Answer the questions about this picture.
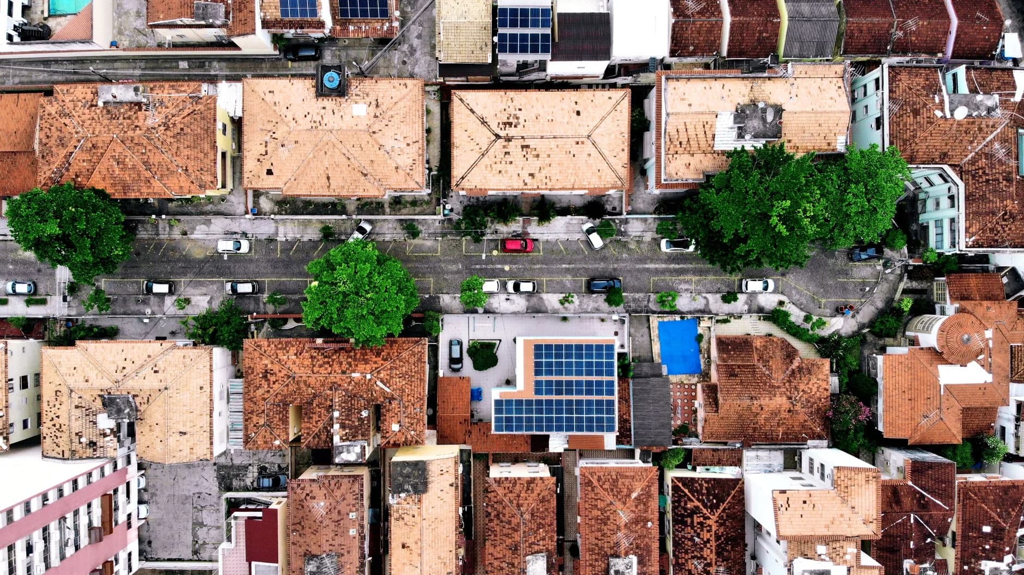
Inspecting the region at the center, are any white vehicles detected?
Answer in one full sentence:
Yes, a white vehicle appears at the center.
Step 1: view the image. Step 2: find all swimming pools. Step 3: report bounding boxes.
[656,317,704,377]
[45,0,90,18]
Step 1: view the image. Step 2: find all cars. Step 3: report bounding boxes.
[848,247,879,262]
[448,338,464,371]
[477,279,503,294]
[136,503,154,519]
[228,280,258,295]
[347,218,373,244]
[286,45,320,62]
[588,277,621,292]
[661,237,694,253]
[219,240,250,254]
[145,280,176,295]
[136,474,151,489]
[581,221,604,250]
[506,279,536,294]
[257,474,281,489]
[7,280,38,295]
[740,278,773,294]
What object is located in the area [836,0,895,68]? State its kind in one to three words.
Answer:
house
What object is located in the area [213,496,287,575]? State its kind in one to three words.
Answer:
building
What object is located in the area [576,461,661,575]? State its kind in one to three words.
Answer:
house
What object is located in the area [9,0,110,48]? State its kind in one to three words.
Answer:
building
